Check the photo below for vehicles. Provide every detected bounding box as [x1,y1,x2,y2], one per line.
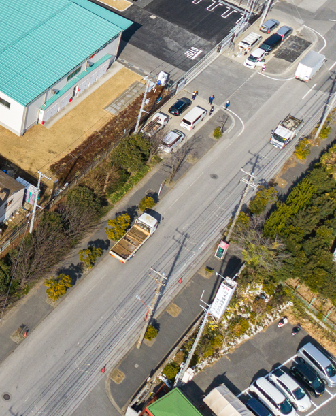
[241,44,268,69]
[268,114,305,149]
[180,102,208,130]
[282,351,334,403]
[249,373,300,416]
[167,96,194,118]
[291,48,329,82]
[103,209,163,267]
[159,129,184,154]
[257,18,282,36]
[295,337,336,388]
[267,364,317,413]
[262,31,284,55]
[140,110,171,142]
[239,29,265,53]
[278,24,296,43]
